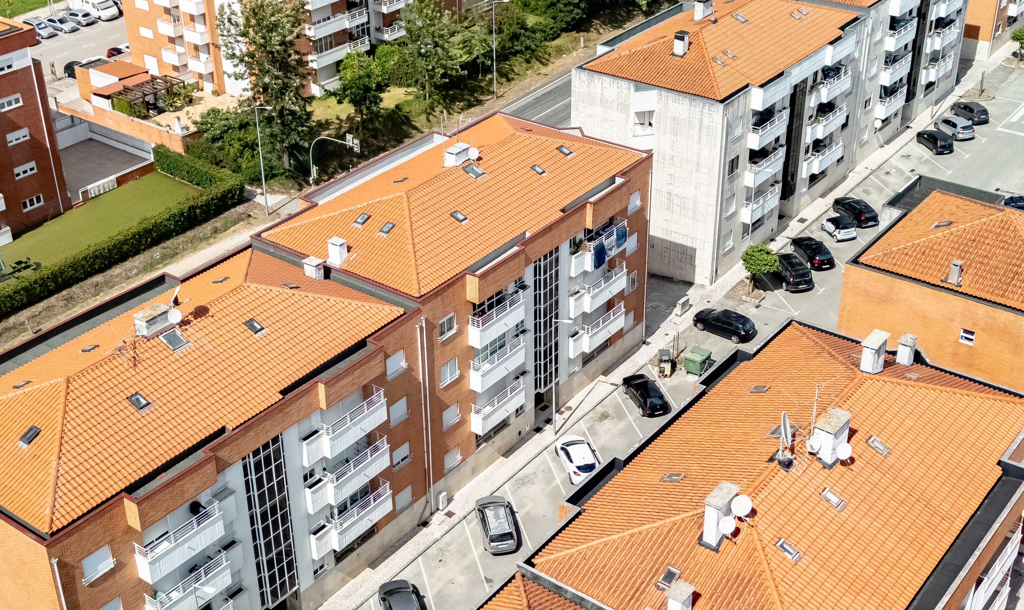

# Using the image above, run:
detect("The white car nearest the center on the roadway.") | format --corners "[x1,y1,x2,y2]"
[555,435,604,488]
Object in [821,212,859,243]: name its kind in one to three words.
car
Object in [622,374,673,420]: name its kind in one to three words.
car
